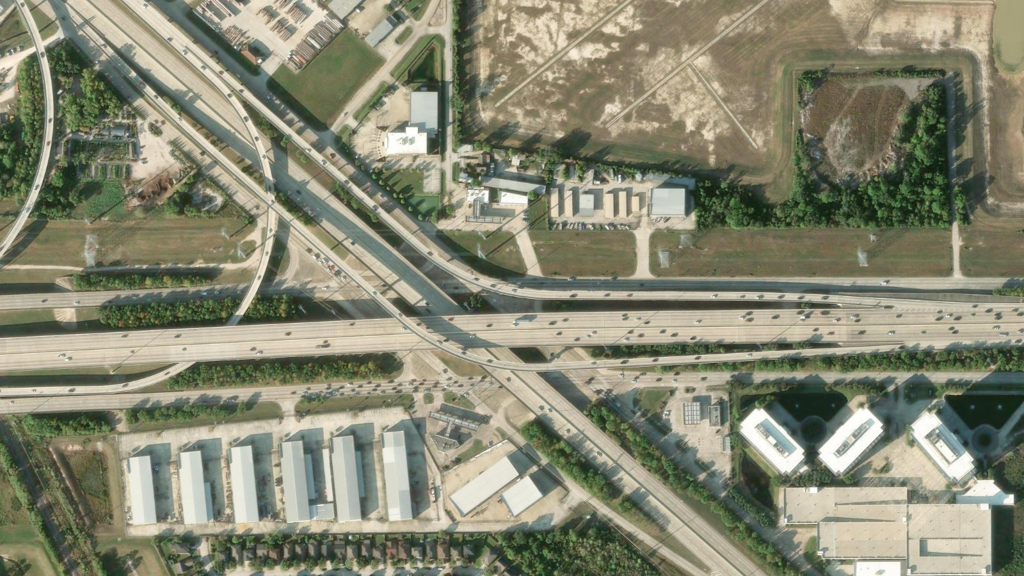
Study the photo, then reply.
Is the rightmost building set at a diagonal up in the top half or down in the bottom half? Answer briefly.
bottom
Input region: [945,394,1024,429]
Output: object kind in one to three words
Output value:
pond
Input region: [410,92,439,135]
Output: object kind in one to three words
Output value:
building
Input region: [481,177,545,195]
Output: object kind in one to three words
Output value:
shed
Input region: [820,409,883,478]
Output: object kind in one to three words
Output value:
building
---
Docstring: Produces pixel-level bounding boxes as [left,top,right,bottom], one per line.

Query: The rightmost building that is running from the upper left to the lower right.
[912,413,974,486]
